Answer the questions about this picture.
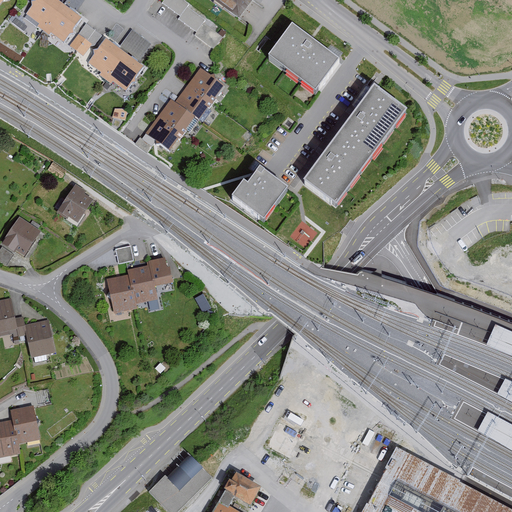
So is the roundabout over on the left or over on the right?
right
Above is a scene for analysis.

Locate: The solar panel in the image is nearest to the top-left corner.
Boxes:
[112,62,136,86]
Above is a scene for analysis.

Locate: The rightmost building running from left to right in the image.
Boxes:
[362,446,512,512]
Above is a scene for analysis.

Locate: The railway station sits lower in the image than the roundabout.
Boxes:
[434,313,512,500]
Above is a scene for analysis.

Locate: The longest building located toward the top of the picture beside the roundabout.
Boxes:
[305,82,408,210]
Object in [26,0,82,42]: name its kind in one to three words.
house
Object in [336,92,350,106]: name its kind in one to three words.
vehicle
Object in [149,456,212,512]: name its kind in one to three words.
building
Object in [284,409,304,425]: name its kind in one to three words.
vehicle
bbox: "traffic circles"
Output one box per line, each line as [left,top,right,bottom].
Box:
[445,90,512,172]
